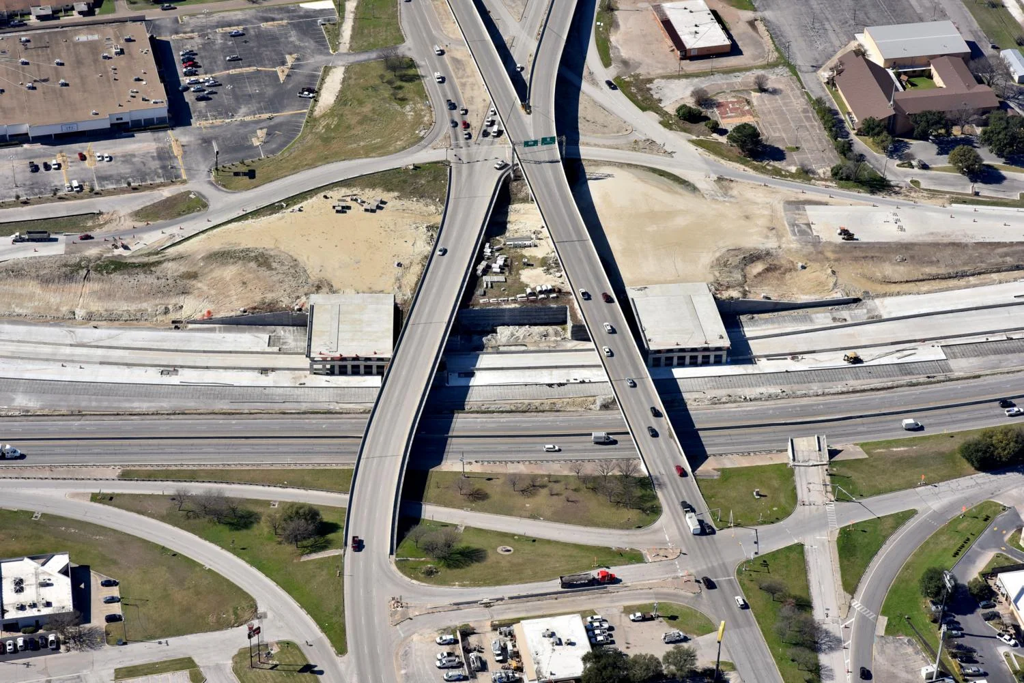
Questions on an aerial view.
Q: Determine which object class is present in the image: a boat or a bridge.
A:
bridge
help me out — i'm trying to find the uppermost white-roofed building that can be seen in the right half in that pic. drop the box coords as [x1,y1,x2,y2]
[651,0,731,60]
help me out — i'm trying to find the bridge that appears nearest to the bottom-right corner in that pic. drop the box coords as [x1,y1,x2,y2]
[789,433,830,467]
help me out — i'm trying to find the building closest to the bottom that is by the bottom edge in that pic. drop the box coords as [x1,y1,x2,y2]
[513,614,600,683]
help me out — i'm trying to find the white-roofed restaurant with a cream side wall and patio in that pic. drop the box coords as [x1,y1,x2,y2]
[991,564,1024,632]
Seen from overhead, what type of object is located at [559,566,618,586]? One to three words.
vehicle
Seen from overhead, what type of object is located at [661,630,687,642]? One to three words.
vehicle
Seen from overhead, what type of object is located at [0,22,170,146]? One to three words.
building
